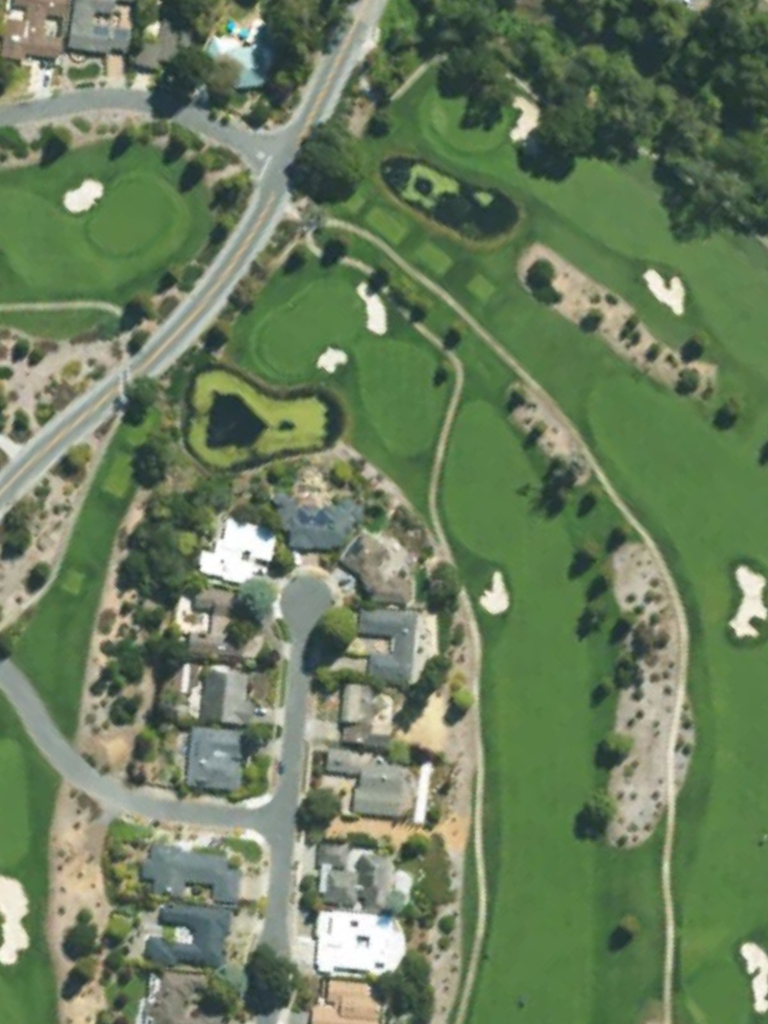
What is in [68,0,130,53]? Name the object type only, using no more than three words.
house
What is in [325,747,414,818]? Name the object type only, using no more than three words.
house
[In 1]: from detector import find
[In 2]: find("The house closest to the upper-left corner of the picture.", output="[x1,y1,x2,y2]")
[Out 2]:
[1,0,69,61]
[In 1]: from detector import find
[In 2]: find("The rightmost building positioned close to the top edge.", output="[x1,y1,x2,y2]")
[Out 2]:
[207,33,267,88]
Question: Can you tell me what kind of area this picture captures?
golf course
